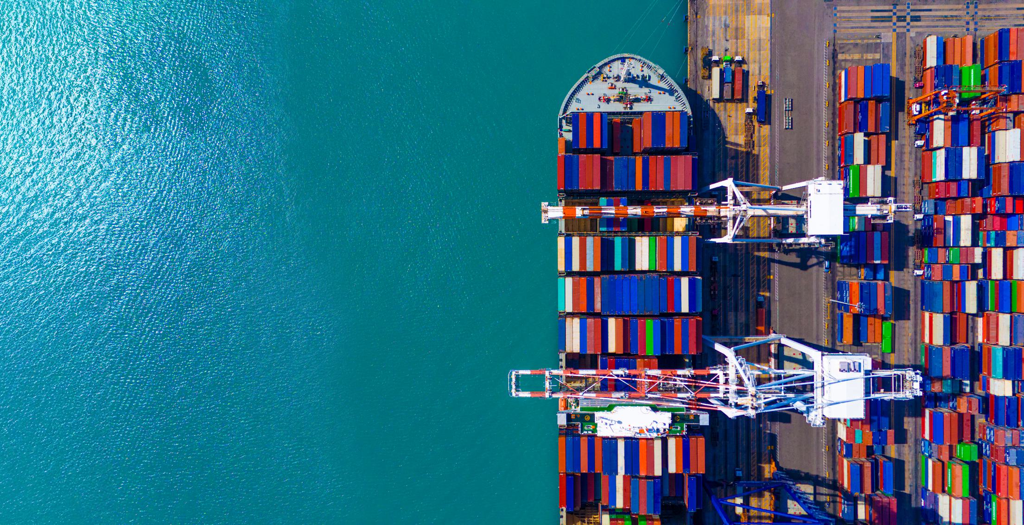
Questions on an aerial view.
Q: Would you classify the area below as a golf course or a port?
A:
port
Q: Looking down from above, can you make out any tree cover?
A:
No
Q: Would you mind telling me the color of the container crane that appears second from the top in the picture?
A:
white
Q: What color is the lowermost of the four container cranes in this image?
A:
blue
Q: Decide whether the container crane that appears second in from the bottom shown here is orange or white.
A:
white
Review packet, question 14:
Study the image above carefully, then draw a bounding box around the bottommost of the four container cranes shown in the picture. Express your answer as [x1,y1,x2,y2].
[699,449,825,525]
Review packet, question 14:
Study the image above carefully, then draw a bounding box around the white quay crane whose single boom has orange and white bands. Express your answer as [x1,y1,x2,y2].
[541,176,912,255]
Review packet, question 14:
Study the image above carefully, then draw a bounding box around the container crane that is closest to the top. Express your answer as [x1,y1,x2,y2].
[909,87,1009,126]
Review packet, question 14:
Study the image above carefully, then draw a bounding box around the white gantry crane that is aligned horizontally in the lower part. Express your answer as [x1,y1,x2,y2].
[508,324,923,428]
